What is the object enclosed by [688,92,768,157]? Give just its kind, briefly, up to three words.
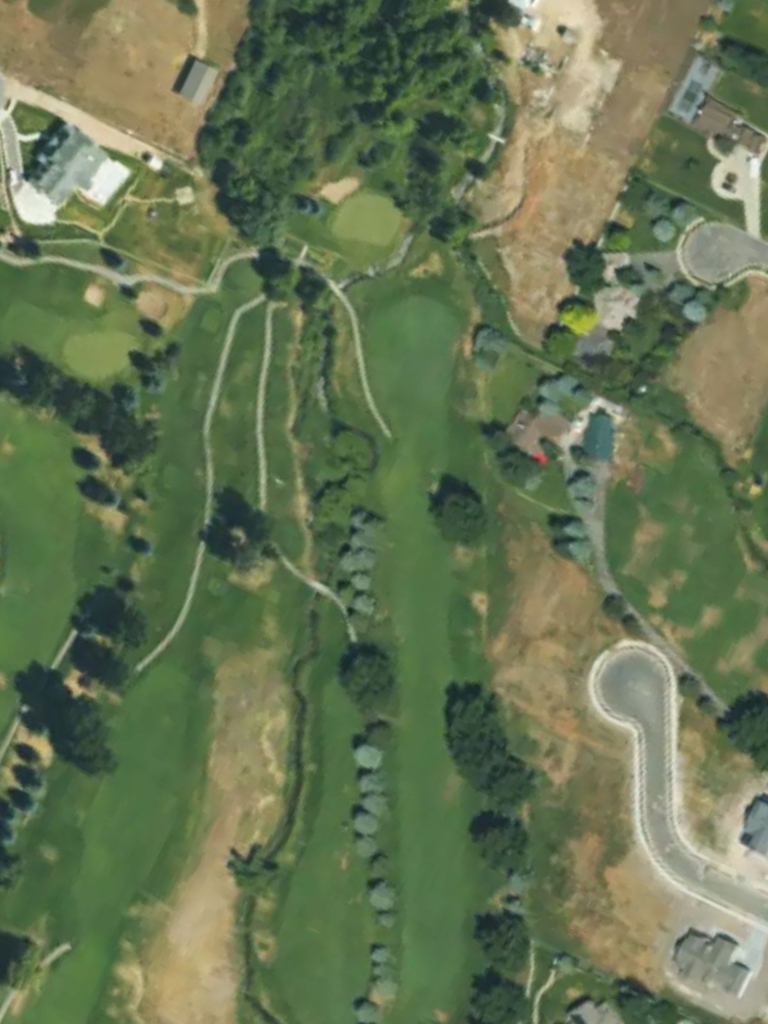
house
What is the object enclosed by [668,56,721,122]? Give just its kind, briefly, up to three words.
shed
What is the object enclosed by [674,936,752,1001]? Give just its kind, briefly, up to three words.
house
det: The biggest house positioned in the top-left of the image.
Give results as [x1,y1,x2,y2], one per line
[32,122,131,205]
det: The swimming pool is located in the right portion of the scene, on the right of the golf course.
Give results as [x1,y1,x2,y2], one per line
[566,398,627,463]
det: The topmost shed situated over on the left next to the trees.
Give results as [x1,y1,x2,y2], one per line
[181,57,219,103]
